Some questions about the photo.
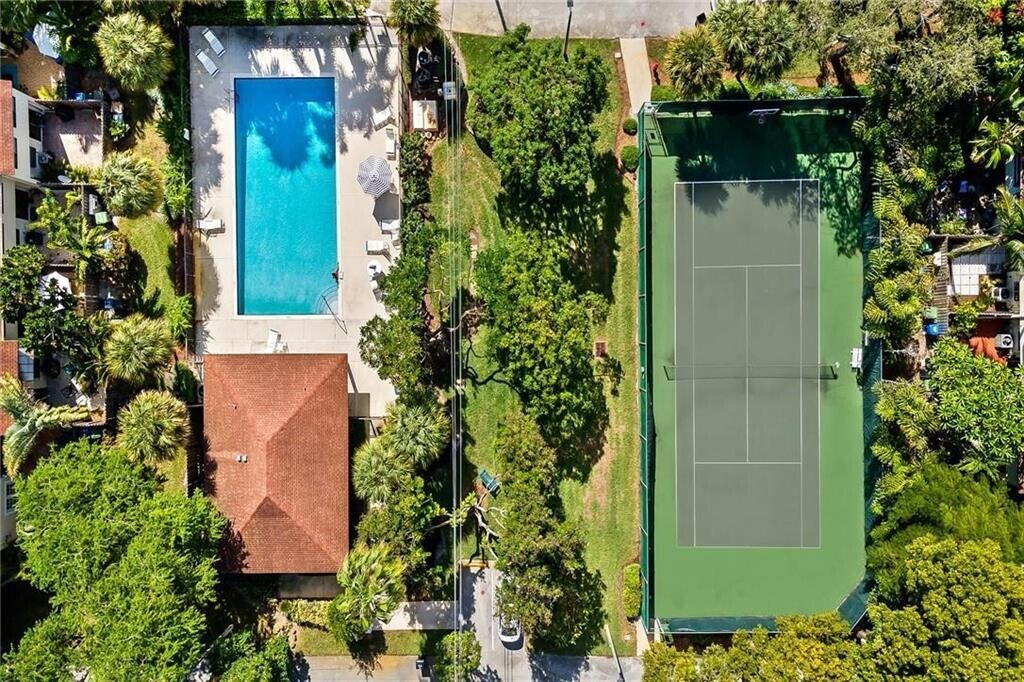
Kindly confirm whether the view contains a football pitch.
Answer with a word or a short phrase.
No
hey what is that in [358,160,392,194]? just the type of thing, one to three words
umbrella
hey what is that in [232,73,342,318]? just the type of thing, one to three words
swimming pool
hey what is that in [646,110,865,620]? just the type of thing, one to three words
tennis court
